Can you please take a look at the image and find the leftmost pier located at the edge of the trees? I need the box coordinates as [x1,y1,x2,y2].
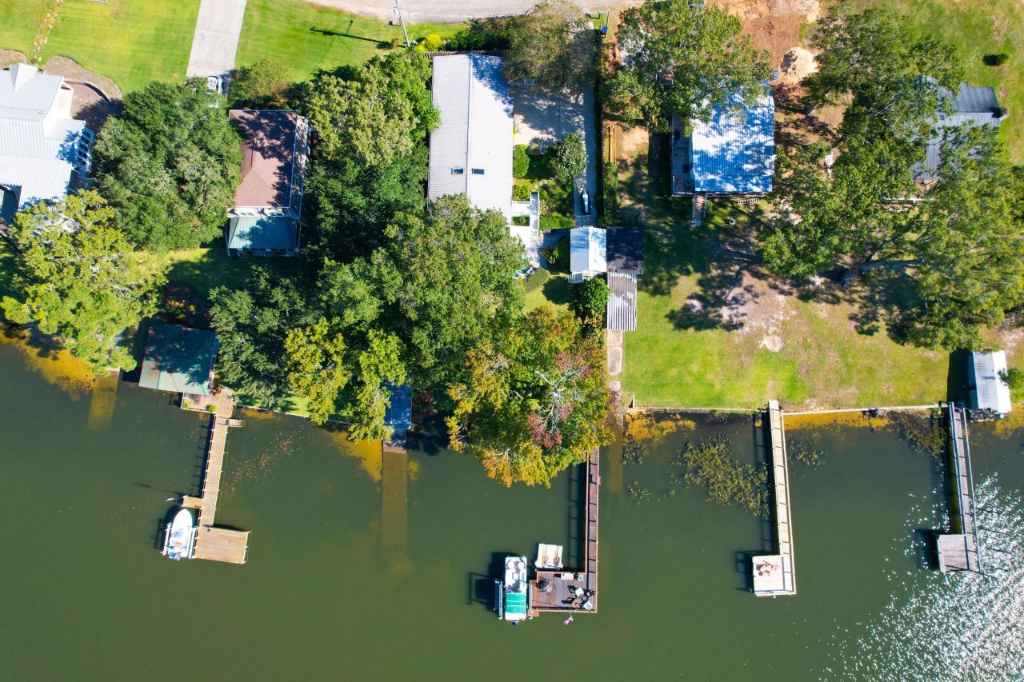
[180,386,252,566]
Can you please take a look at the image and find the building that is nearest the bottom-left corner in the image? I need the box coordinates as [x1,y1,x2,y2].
[140,323,219,413]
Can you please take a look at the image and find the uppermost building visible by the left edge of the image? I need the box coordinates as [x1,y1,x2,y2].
[0,63,99,217]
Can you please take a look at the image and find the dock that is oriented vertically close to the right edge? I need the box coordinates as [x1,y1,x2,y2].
[931,403,985,576]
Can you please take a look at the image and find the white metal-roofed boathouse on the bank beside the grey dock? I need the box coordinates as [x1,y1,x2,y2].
[964,350,1012,413]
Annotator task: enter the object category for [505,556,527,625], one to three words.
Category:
boat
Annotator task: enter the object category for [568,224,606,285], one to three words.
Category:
shed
